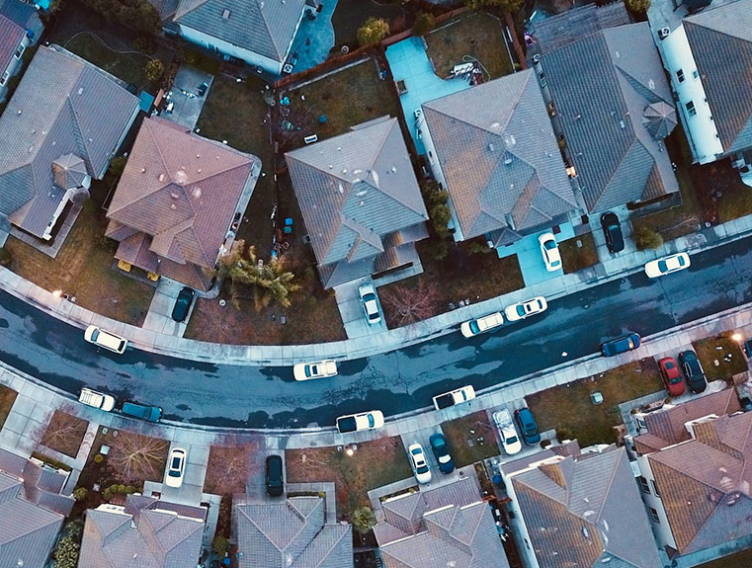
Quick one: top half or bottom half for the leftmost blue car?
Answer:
bottom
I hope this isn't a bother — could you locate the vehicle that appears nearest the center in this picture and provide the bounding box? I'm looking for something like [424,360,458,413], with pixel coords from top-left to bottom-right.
[359,282,382,326]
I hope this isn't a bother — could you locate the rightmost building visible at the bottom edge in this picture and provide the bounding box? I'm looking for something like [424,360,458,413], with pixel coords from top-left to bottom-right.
[628,386,752,555]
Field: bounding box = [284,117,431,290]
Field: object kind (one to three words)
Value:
house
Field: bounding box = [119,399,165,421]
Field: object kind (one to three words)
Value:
car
